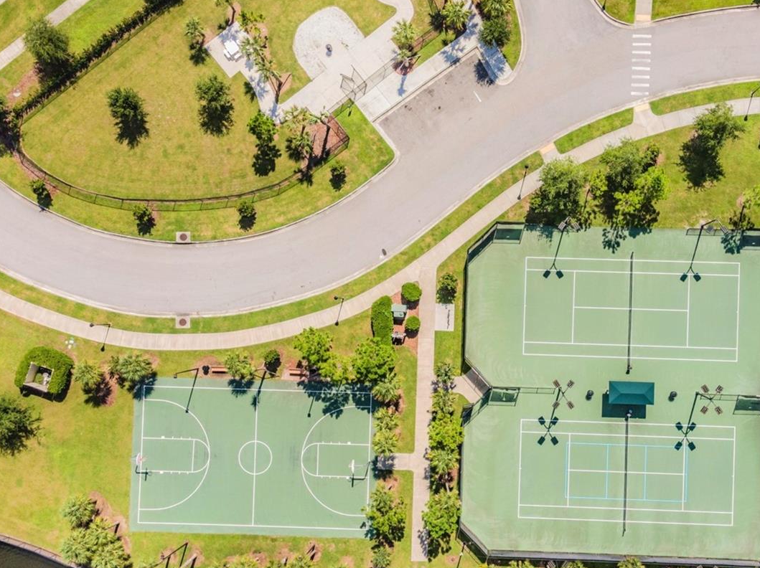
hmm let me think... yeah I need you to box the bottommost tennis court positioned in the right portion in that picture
[461,390,760,561]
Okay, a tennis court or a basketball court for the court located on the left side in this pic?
basketball court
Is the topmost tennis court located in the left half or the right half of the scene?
right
